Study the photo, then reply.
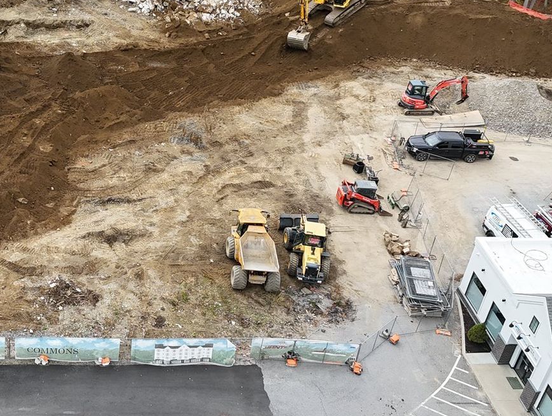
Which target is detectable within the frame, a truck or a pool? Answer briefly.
truck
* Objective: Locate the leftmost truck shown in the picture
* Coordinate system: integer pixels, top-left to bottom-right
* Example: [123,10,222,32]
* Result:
[227,207,283,293]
